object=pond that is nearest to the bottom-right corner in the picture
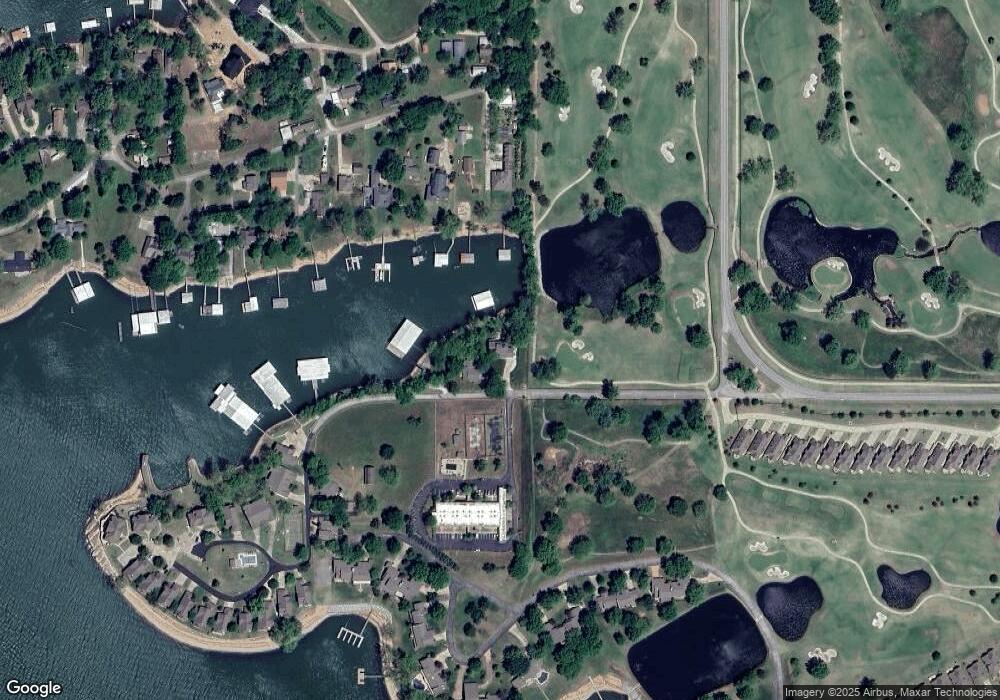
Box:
[877,565,931,609]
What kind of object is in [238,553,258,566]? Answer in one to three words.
swimming pool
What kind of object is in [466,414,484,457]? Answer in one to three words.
sports court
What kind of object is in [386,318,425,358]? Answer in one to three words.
pier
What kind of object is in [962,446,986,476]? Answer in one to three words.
house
